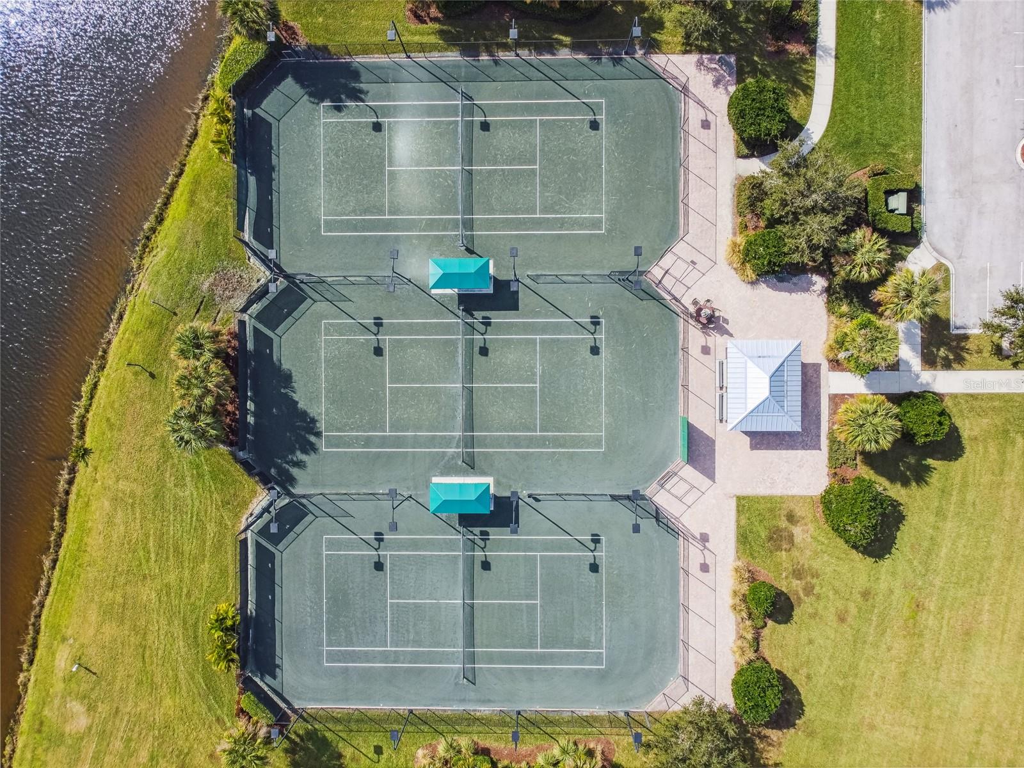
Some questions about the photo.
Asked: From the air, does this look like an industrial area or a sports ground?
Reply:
sports ground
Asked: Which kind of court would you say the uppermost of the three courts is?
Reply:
tennis court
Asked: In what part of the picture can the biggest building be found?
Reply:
right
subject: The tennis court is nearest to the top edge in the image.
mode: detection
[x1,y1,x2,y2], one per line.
[244,53,682,278]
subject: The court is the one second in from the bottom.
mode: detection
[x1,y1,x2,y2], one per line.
[247,275,682,493]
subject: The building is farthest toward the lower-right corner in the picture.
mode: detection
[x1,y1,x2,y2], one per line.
[722,340,802,432]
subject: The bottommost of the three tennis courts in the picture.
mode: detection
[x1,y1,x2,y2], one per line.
[249,492,682,713]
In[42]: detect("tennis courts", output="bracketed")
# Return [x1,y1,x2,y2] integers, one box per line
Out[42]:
[249,492,682,713]
[244,53,682,278]
[247,275,682,493]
